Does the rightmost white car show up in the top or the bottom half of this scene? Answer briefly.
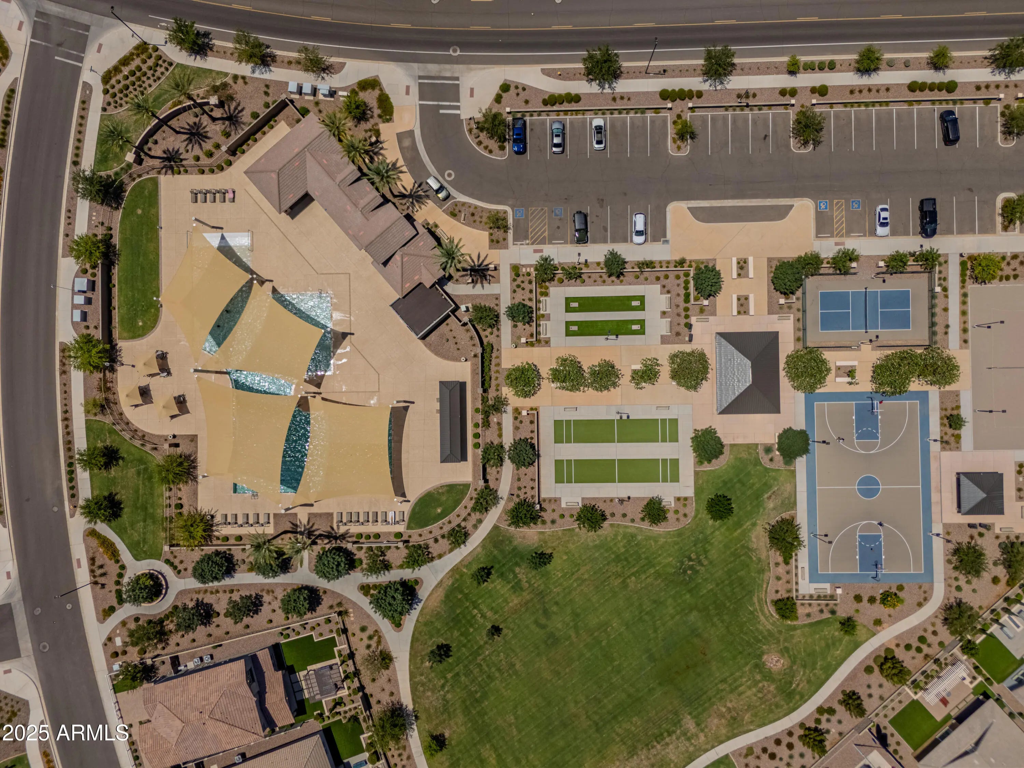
top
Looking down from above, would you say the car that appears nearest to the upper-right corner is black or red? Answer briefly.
black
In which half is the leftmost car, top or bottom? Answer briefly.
top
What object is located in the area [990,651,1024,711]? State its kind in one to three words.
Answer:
house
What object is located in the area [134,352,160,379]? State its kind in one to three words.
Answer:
umbrella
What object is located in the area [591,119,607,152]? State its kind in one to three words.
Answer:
car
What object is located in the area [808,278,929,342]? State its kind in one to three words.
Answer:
sports court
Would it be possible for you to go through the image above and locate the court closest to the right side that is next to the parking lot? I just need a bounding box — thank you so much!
[968,284,1024,451]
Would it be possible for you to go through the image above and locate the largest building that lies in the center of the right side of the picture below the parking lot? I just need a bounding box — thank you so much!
[712,331,781,414]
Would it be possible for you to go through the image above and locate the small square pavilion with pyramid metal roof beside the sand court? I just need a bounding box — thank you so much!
[950,472,1005,515]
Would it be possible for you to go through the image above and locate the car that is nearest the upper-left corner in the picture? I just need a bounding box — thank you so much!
[425,172,452,203]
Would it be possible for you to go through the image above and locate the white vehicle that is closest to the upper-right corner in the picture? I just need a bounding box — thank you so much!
[872,204,892,238]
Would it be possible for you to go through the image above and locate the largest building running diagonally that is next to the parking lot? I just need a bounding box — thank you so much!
[243,112,445,298]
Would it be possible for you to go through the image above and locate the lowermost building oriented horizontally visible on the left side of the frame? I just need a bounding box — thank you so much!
[249,729,343,768]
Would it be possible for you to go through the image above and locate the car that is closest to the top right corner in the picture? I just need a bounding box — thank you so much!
[938,110,961,147]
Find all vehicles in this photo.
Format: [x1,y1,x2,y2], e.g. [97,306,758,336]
[917,197,940,239]
[573,210,589,244]
[938,110,961,147]
[511,117,528,156]
[425,172,452,203]
[550,122,566,155]
[591,119,607,152]
[872,204,892,238]
[631,213,647,246]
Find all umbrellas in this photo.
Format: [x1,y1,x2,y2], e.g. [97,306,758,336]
[151,394,179,419]
[117,383,142,408]
[134,352,160,379]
